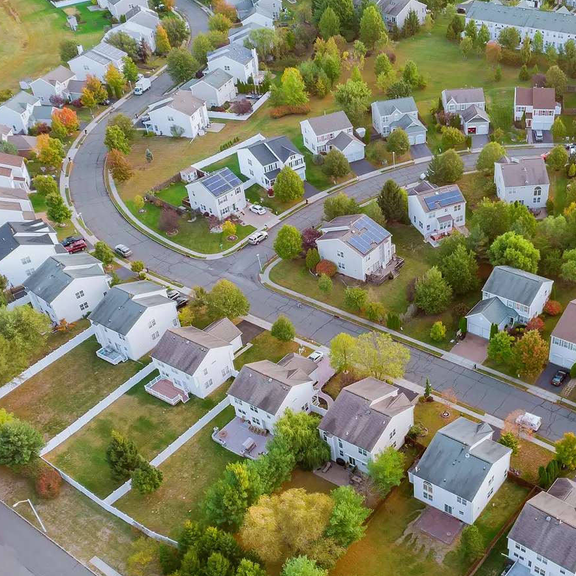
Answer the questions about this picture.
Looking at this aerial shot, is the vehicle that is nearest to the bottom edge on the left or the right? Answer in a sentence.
The vehicle that is nearest to the bottom edge sits on the right side.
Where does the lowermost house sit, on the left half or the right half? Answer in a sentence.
You can find the lowermost house on the right side of the picture.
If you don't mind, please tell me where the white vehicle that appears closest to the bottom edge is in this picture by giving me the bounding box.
[512,407,543,429]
